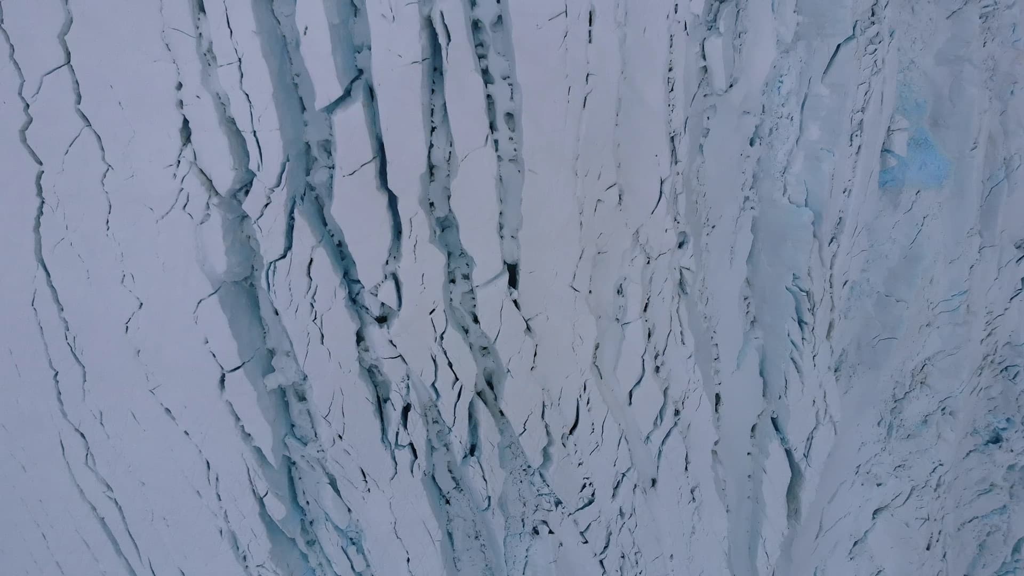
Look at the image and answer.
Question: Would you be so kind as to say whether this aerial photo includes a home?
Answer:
No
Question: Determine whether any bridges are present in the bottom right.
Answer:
No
